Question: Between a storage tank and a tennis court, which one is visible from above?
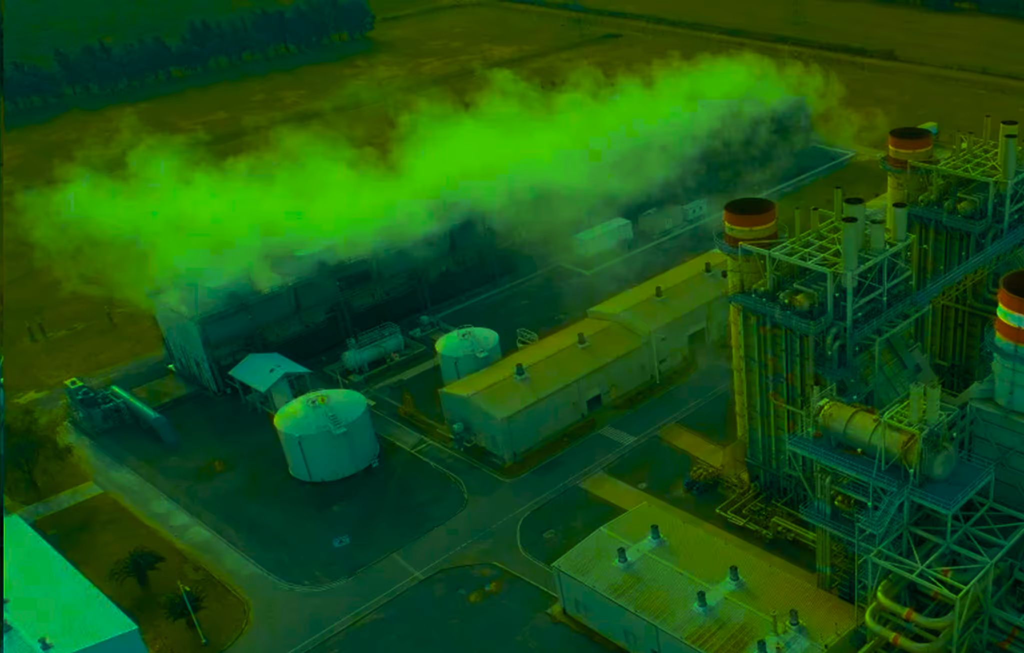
storage tank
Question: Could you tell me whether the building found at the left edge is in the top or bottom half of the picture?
bottom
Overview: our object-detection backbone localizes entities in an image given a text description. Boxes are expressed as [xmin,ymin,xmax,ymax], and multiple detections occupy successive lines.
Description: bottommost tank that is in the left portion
[273,387,388,483]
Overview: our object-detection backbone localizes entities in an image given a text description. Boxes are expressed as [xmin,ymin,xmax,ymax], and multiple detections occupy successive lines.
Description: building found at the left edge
[0,514,147,653]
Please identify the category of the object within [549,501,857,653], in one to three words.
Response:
warehouse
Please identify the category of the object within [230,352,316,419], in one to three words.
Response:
shed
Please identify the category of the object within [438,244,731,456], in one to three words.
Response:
building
